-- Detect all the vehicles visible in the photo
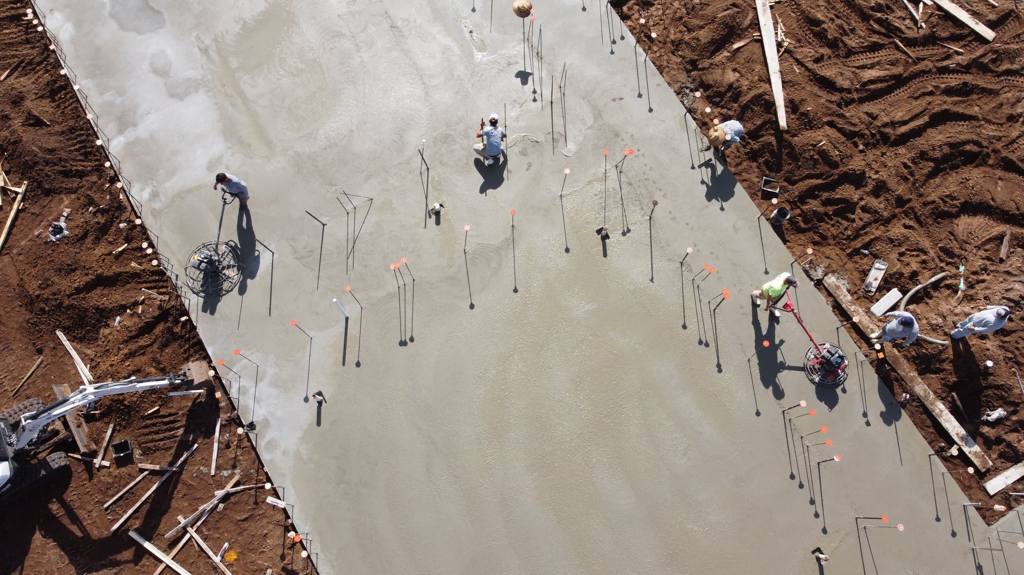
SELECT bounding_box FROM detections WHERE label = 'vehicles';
[0,358,216,525]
